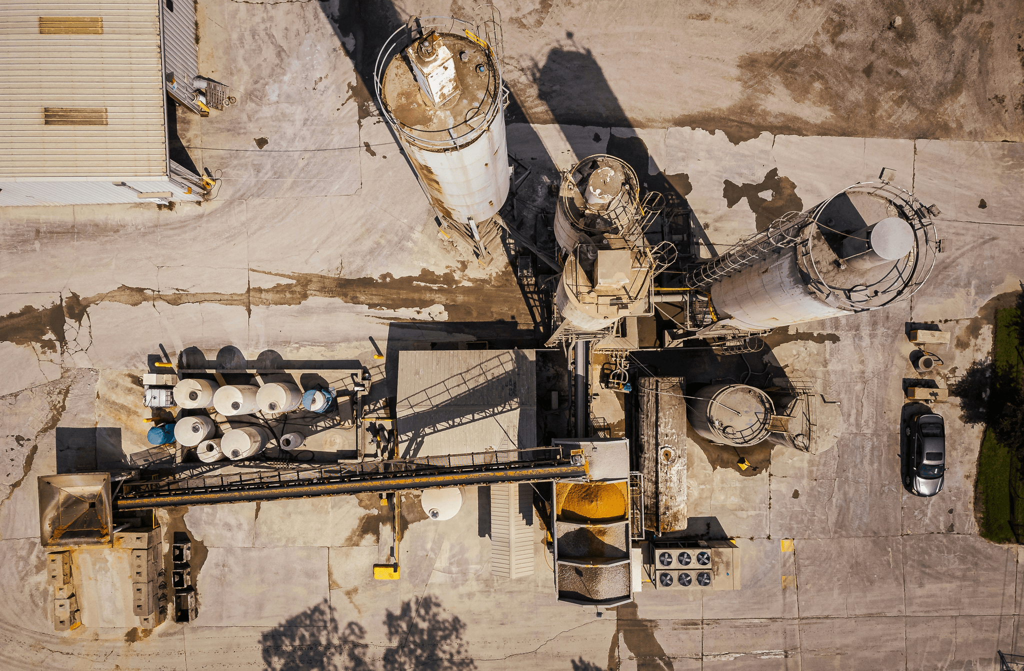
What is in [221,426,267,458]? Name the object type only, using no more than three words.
storage tank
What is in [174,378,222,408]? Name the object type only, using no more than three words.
storage tank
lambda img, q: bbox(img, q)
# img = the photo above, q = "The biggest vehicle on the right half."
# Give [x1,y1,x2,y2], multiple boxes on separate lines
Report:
[905,413,949,498]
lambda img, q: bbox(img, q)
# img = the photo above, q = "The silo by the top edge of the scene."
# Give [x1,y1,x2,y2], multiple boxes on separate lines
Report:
[381,5,529,261]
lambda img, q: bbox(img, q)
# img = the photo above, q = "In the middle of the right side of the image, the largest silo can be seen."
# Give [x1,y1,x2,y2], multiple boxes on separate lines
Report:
[670,180,940,371]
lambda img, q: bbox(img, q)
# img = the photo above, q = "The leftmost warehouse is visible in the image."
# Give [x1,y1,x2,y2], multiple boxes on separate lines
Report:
[0,0,204,199]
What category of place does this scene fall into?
industrial area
